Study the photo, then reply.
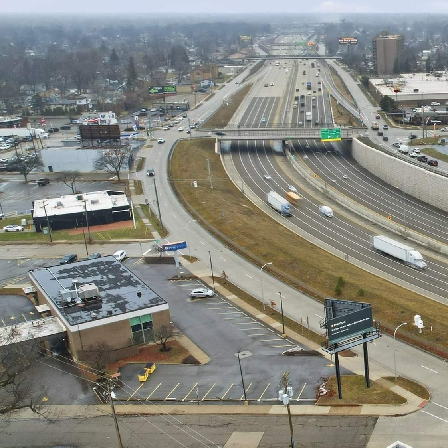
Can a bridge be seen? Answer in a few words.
Yes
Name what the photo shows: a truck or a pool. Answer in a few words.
truck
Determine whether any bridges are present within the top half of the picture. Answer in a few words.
Yes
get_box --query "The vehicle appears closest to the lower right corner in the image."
[369,236,429,272]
